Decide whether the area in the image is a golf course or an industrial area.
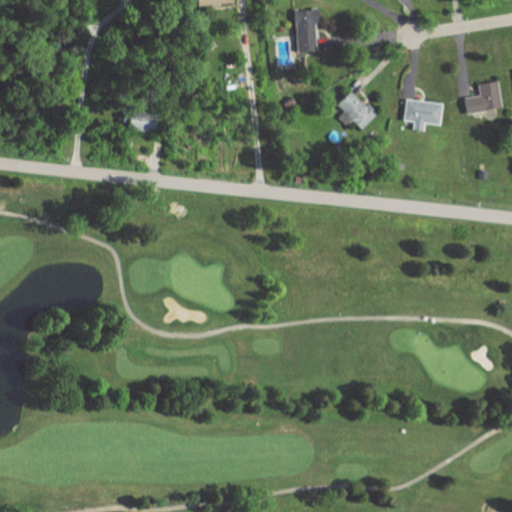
golf course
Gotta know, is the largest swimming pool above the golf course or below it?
above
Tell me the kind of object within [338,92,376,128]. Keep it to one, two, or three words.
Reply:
house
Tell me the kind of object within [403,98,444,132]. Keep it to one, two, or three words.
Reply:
house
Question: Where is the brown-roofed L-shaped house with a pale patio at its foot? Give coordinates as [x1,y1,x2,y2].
[465,81,504,114]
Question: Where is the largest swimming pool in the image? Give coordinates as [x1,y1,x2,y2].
[274,34,298,66]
